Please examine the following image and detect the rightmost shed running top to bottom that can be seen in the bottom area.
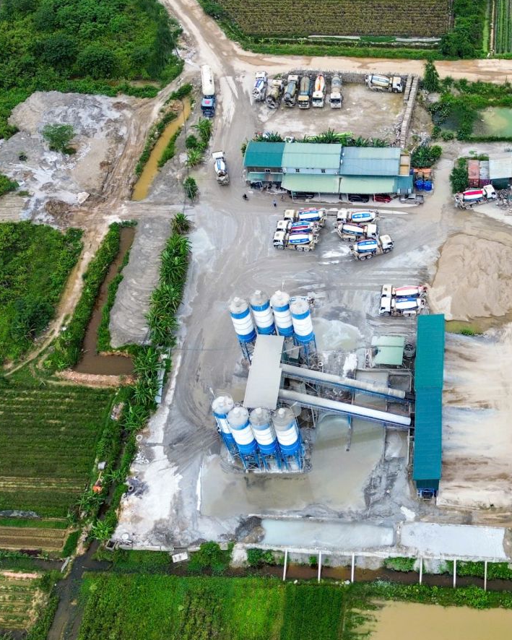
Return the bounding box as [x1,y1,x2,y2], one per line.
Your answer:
[413,314,443,491]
